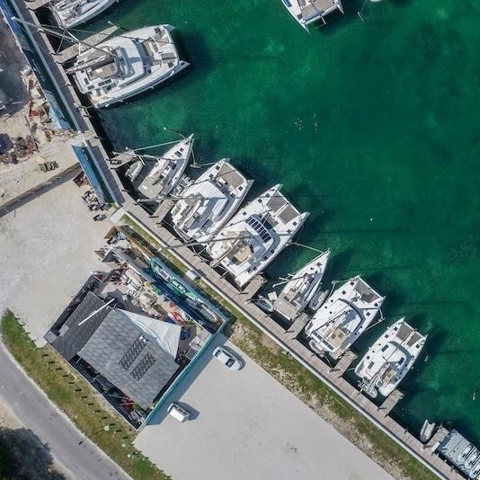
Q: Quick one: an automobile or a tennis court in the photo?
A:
automobile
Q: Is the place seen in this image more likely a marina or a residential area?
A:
marina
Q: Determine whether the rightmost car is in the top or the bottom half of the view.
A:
bottom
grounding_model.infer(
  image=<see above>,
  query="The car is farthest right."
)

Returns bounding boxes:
[213,345,242,372]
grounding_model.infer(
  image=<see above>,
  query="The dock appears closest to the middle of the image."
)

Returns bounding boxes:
[240,274,267,298]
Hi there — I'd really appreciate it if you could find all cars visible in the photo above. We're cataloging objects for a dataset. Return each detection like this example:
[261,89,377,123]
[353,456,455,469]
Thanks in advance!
[213,345,242,372]
[165,402,192,424]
